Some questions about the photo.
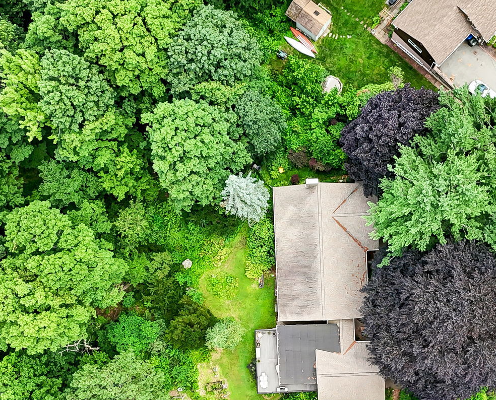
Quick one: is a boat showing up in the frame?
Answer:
Yes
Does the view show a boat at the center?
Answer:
No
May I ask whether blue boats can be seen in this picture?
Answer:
No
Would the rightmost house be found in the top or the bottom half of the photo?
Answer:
top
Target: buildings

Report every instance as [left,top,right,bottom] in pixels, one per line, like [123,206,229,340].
[283,0,334,44]
[274,176,389,400]
[391,0,496,73]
